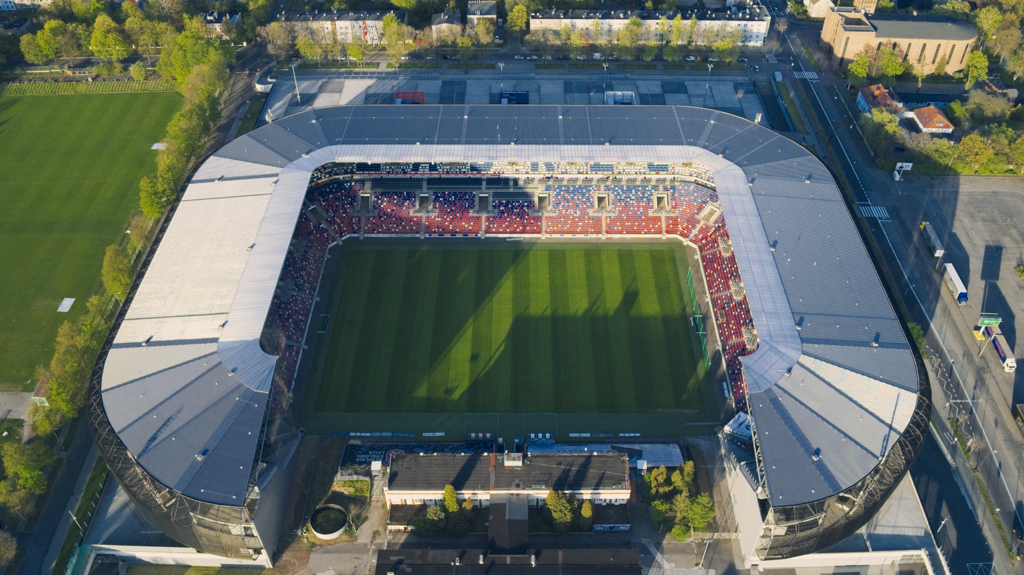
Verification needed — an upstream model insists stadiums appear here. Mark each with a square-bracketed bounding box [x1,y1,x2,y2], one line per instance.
[85,103,935,566]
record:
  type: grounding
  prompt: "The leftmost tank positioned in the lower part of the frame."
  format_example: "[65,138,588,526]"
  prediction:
[309,504,352,545]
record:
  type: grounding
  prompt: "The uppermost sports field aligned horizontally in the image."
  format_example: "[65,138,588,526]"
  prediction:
[315,249,705,413]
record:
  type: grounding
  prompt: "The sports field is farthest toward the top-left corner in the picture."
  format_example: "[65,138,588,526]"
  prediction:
[0,91,184,393]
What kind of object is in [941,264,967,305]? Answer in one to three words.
truck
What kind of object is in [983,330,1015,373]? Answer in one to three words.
truck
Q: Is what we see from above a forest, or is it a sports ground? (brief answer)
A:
sports ground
